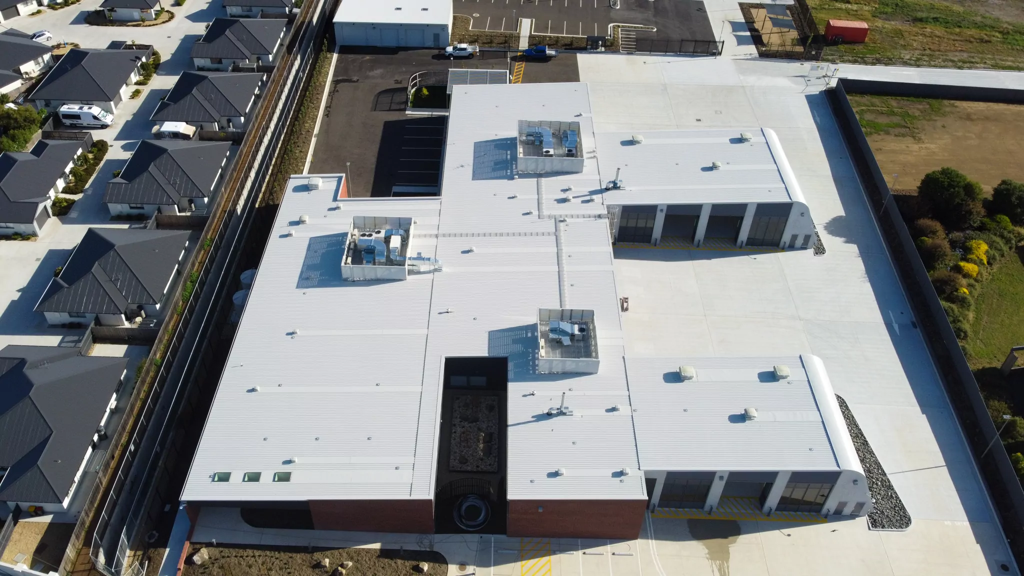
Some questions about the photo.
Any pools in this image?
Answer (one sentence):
No, I can't see a single pool in this photo.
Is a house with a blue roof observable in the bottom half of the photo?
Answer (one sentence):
No, no house with a blue roof can be made out in the bottom half of the photo.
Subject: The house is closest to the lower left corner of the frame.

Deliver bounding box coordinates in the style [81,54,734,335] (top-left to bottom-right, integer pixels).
[0,344,132,513]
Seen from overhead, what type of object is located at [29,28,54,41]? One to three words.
vehicle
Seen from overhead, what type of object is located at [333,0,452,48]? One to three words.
shed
